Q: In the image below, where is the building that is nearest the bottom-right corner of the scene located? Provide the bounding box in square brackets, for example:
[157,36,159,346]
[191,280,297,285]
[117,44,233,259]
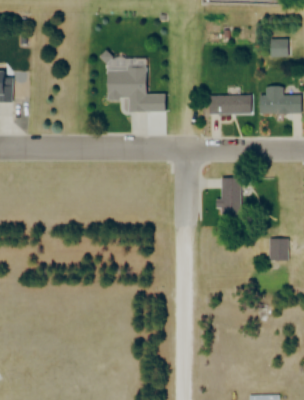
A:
[271,240,290,260]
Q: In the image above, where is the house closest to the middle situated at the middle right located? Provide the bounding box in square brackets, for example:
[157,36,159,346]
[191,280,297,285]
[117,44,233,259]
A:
[214,178,242,224]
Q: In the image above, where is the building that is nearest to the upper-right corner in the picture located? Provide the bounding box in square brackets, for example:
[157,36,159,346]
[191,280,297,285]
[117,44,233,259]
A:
[271,39,290,58]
